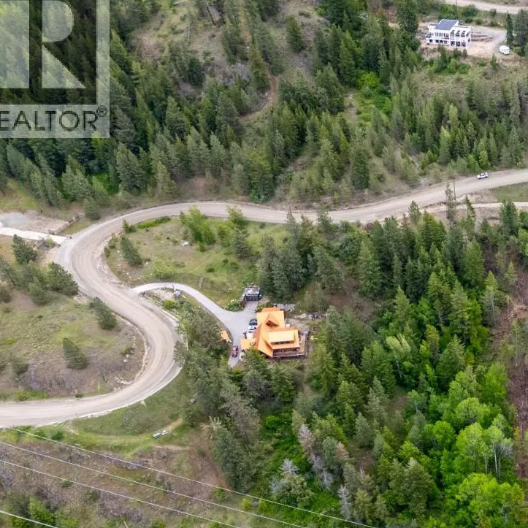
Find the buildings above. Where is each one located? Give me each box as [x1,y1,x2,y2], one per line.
[245,287,260,301]
[241,303,307,364]
[428,19,471,49]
